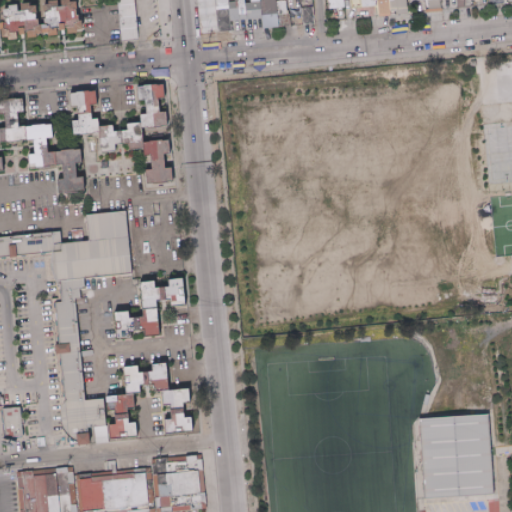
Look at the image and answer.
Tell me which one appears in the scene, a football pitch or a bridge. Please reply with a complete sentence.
I can see a football pitch in this picture.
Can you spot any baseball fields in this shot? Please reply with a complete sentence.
No, there's no baseball field here.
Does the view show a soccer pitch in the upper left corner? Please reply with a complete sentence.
No, I can find no soccer pitch in the upper left corner.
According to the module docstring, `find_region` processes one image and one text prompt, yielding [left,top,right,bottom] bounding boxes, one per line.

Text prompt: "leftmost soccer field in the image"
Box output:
[256,338,435,512]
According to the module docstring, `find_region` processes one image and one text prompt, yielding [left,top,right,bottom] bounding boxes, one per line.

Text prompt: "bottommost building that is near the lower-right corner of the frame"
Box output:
[420,415,495,498]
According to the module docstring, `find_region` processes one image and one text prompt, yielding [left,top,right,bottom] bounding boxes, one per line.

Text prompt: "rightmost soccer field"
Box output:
[491,196,512,257]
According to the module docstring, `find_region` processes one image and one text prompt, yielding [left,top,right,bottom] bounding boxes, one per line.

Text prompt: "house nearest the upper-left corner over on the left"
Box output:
[0,2,38,40]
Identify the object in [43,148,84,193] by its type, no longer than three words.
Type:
house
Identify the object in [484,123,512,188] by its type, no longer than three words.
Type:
basketball court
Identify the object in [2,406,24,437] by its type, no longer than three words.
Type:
building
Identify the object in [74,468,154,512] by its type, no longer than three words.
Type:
house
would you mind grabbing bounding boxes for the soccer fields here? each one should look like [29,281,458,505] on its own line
[256,338,435,512]
[491,196,512,257]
